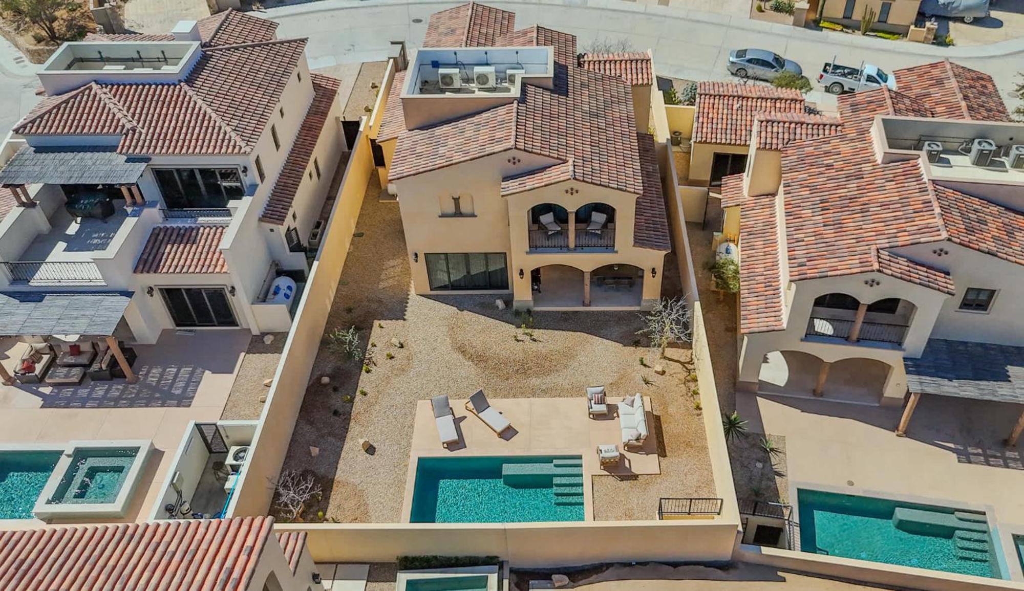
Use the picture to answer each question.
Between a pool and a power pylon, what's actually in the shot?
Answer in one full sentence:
Visible in the photo is a pool.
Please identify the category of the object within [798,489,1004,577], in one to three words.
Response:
swimming pool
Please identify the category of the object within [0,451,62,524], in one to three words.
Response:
swimming pool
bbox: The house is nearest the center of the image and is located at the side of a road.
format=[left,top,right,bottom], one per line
[375,0,675,308]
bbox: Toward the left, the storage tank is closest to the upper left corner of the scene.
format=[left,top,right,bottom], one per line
[271,269,302,304]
